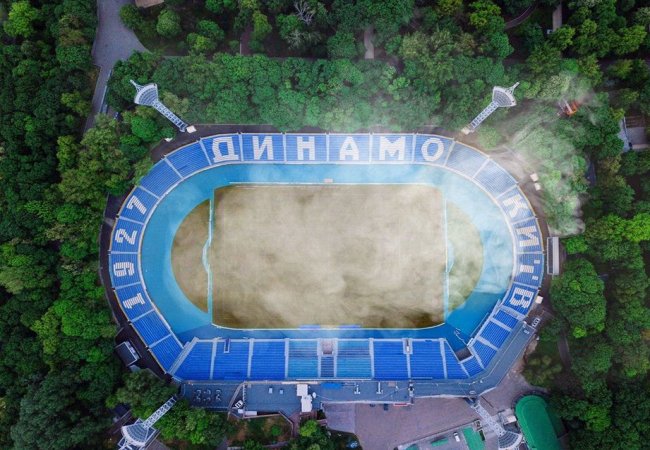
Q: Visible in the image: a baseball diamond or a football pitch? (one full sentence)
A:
This aerial view contains a football pitch.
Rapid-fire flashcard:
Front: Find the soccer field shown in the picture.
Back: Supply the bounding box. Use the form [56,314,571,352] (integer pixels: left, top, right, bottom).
[171,185,484,329]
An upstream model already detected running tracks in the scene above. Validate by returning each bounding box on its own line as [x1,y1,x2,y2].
[143,163,513,363]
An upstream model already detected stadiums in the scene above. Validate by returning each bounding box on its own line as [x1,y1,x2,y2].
[105,129,548,435]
